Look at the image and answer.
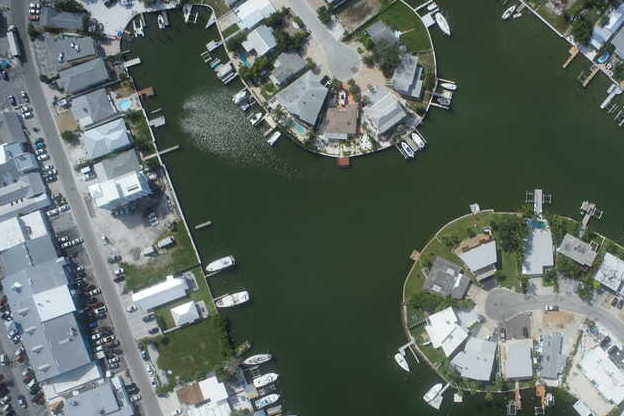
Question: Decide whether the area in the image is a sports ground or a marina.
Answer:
marina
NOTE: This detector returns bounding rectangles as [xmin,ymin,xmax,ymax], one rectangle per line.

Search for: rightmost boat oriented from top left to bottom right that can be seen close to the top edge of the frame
[434,12,450,35]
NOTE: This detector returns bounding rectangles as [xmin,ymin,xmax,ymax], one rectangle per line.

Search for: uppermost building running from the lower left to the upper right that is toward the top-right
[593,5,624,46]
